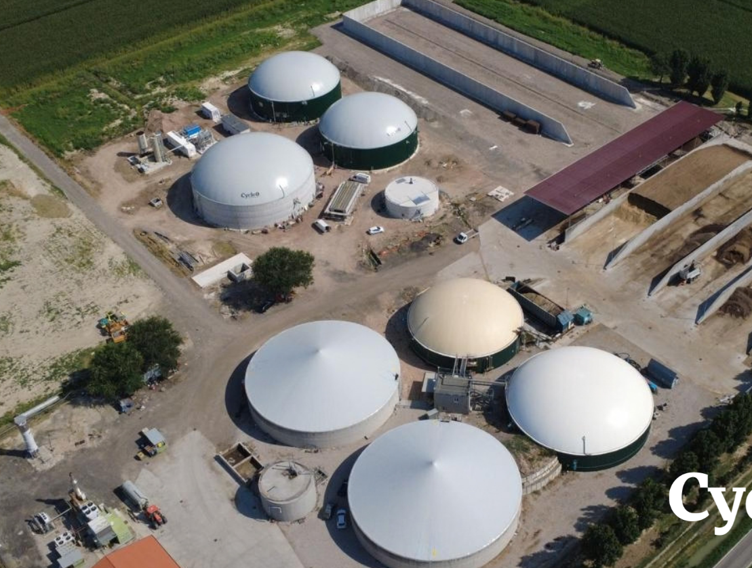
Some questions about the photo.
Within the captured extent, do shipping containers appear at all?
Yes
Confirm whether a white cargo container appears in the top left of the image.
Yes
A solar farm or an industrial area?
industrial area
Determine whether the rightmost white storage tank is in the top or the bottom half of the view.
bottom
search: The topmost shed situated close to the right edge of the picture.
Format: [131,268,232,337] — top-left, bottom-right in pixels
[523,100,725,229]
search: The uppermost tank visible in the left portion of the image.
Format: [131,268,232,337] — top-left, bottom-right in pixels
[248,50,347,123]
